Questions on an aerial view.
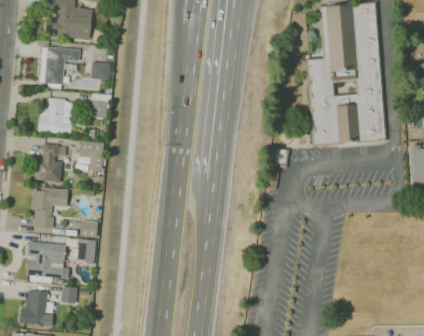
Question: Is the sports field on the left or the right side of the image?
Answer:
right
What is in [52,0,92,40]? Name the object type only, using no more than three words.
house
